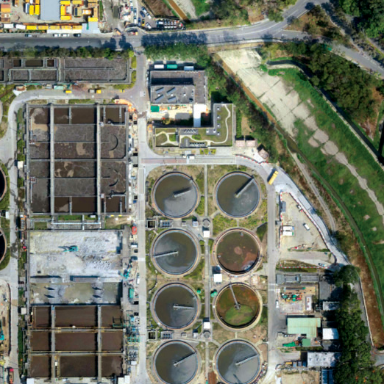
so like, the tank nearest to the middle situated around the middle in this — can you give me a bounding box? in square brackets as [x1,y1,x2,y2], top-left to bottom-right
[151,170,201,220]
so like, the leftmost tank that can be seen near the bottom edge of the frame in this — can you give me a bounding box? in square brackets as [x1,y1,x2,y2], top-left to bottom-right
[28,305,126,384]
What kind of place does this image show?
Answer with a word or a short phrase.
industrial area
